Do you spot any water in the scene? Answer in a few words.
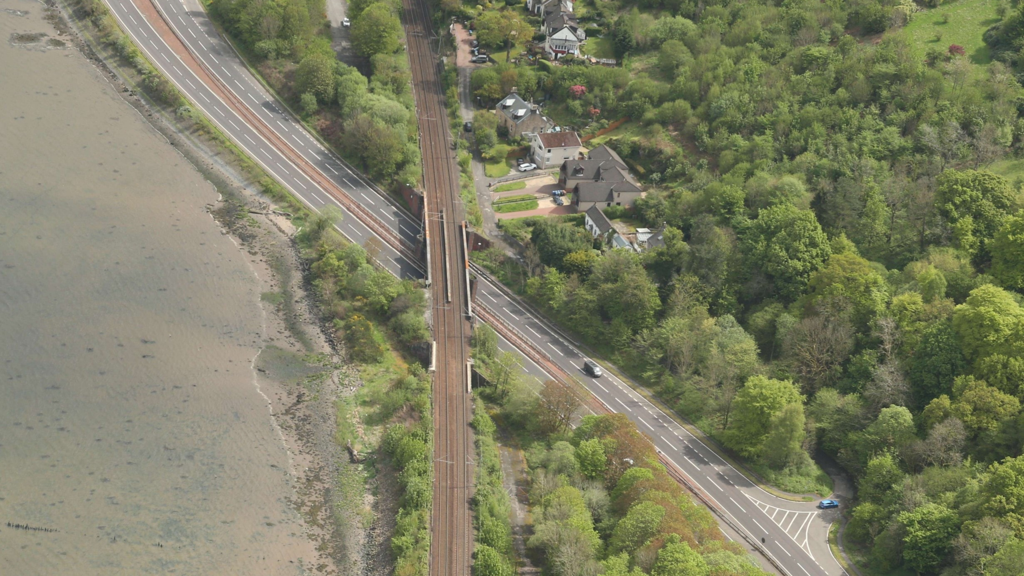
Yes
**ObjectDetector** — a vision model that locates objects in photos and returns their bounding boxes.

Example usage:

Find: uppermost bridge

[398,183,489,326]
